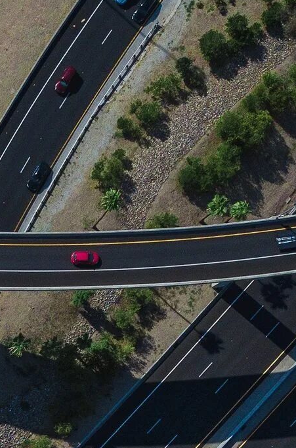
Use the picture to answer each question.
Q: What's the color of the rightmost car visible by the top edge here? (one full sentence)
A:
The rightmost car visible by the top edge looks black in the image.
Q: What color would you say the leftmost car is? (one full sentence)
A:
From above, the leftmost car appears black.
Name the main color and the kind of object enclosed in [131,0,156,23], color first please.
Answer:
black car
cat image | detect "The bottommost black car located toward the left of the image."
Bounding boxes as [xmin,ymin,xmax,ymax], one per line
[28,160,51,193]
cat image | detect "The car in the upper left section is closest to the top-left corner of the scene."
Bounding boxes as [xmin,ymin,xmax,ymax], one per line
[54,64,76,95]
